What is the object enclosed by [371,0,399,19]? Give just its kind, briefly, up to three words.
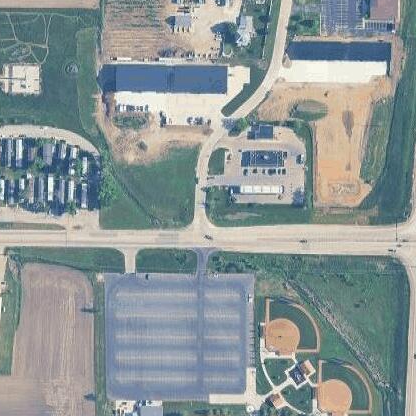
building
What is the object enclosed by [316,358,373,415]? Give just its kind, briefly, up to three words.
baseball field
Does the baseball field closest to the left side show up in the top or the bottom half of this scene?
bottom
